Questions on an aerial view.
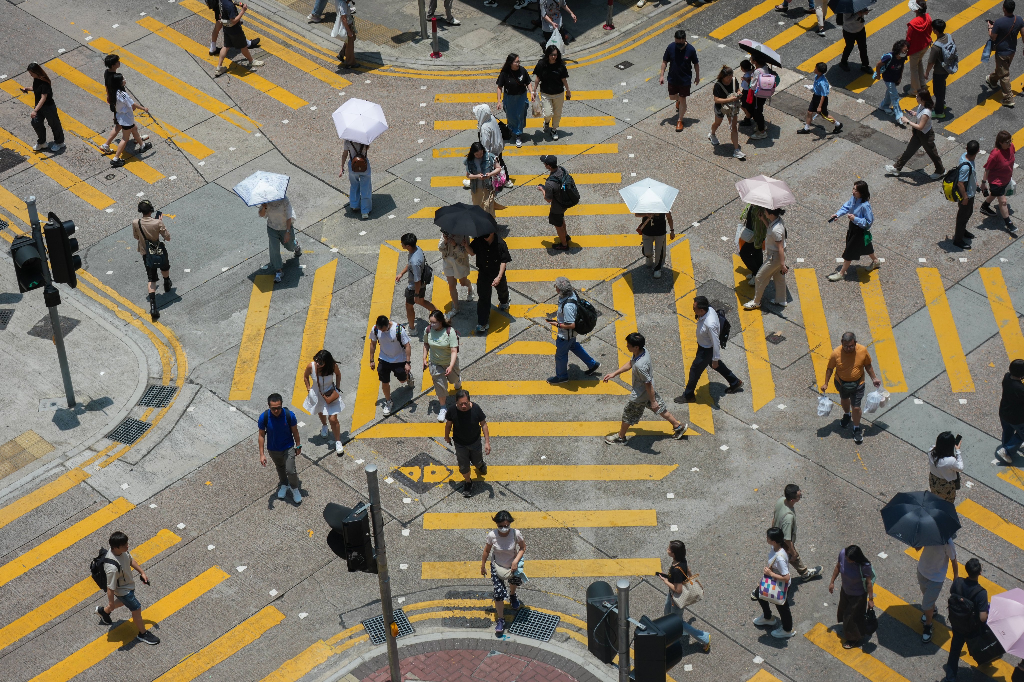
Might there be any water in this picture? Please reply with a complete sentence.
No, no water is visible.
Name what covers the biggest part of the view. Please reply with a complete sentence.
Most of the picture is covered by paved ground.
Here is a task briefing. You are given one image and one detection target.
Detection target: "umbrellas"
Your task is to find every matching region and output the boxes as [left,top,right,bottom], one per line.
[982,587,1024,653]
[617,177,679,211]
[433,197,500,253]
[879,487,964,562]
[827,0,878,14]
[735,175,797,229]
[234,170,294,211]
[331,96,390,144]
[735,48,789,69]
